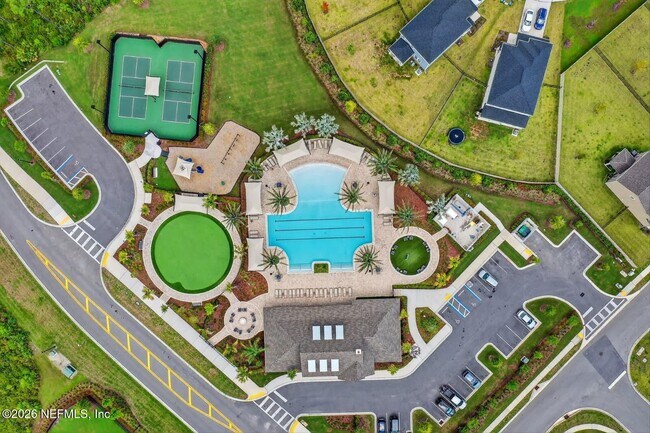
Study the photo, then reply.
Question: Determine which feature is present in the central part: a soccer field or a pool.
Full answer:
There is a pool in the central part.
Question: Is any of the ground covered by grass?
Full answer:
Yes, there is grass in the image.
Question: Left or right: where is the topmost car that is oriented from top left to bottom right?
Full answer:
The topmost car that is oriented from top left to bottom right is on the right side of the image.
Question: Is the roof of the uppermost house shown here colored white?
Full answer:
No, from above the roof of the uppermost house looks blue.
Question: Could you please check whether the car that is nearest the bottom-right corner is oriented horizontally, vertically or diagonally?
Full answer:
What the image shows is the car that is nearest the bottom-right corner lying diagonally.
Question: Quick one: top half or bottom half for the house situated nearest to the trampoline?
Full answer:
The house situated nearest to the trampoline is in the top half of the image.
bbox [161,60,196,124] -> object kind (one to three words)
sports court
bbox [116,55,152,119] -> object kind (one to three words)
sports court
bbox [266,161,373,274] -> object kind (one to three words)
swimming pool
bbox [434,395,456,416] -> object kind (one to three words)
car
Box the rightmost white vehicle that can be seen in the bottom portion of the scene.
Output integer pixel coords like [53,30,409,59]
[515,309,537,329]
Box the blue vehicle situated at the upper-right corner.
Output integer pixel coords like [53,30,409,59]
[534,6,548,31]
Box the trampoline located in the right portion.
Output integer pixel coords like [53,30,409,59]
[448,128,465,145]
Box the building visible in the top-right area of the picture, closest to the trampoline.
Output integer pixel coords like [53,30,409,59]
[475,33,553,130]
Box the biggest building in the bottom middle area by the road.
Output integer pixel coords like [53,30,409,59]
[263,298,402,382]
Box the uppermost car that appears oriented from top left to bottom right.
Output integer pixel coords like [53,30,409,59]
[477,269,500,289]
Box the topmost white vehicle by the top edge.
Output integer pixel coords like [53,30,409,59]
[521,8,534,32]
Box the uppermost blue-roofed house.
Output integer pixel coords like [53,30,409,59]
[388,0,478,68]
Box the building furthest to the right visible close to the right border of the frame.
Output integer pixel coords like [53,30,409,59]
[600,145,650,227]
